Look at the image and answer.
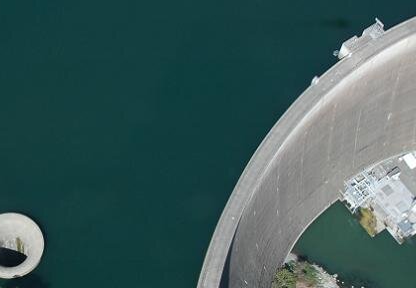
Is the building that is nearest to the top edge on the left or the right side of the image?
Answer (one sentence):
It is on the right.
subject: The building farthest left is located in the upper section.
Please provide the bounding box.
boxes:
[333,35,363,65]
